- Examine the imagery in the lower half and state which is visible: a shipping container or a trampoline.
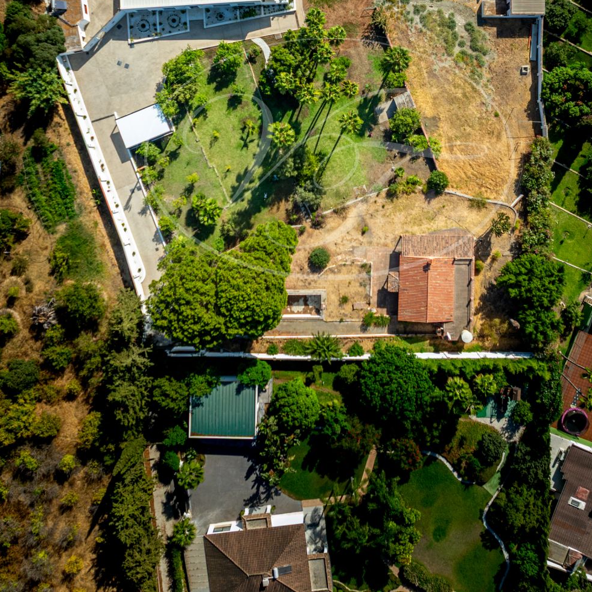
trampoline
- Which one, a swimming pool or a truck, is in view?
swimming pool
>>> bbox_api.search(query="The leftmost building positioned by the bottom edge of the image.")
[182,498,335,592]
